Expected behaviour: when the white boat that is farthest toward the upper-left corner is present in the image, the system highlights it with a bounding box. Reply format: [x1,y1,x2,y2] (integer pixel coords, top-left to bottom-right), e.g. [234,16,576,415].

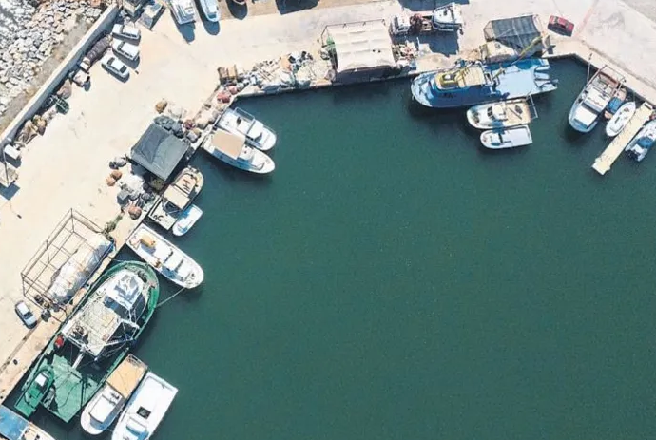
[169,0,197,25]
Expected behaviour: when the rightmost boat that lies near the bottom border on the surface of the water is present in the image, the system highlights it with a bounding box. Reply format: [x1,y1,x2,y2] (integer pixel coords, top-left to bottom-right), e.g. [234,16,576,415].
[117,373,178,440]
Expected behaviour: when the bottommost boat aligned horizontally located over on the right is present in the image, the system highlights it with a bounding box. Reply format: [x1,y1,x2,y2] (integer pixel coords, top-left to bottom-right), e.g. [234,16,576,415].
[479,126,532,148]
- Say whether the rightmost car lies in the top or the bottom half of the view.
top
